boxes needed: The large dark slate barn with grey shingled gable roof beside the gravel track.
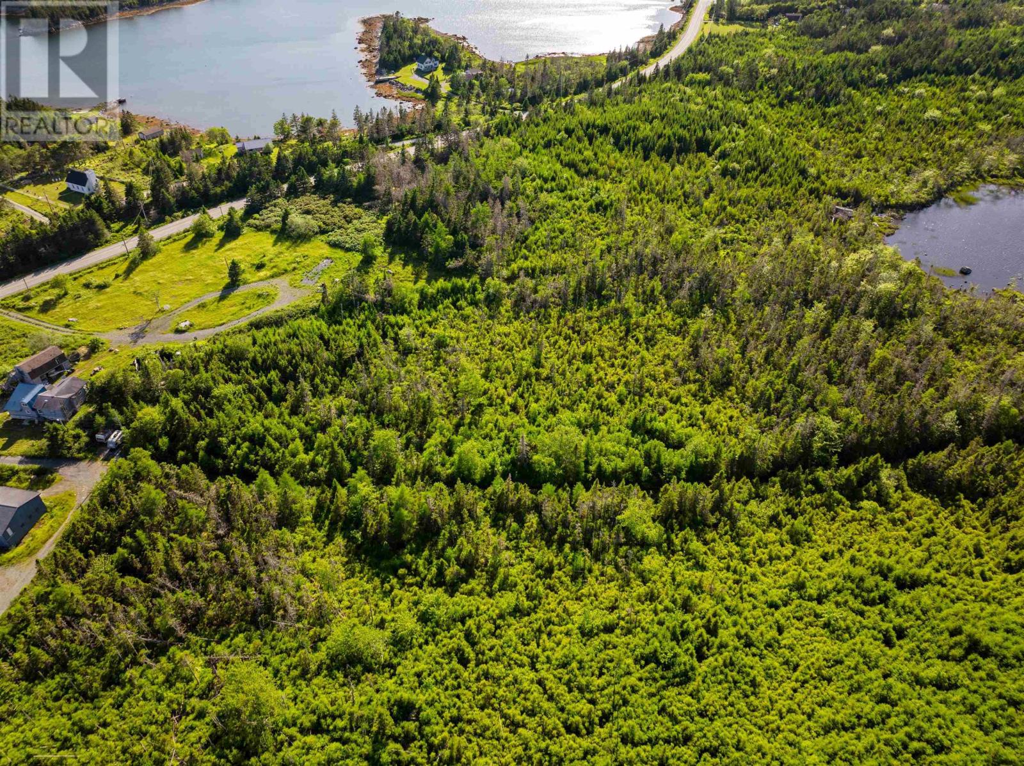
[0,484,46,546]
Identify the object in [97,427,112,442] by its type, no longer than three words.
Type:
vehicle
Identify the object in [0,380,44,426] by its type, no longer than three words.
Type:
house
